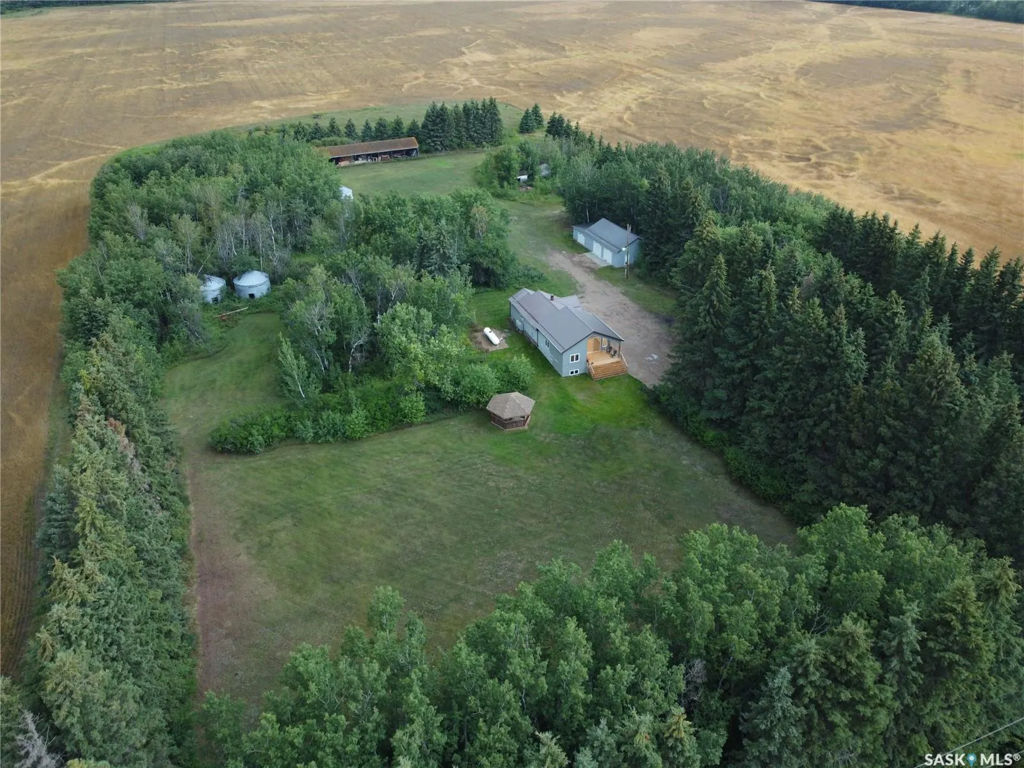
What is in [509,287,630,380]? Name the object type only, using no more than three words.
house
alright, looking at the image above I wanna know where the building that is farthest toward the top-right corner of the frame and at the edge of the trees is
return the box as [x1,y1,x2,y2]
[571,217,640,267]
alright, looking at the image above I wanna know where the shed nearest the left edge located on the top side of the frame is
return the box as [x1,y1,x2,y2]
[320,136,421,164]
